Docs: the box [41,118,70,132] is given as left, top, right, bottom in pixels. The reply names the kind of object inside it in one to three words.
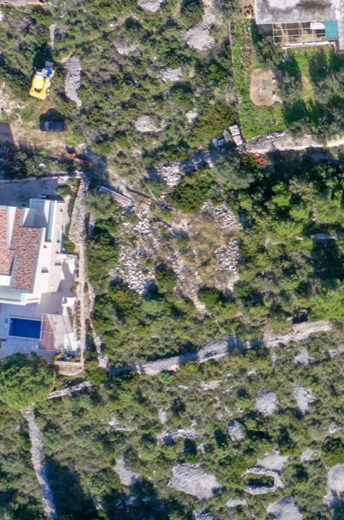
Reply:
vehicle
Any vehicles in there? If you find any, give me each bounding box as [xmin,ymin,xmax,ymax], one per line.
[30,60,59,102]
[41,118,70,132]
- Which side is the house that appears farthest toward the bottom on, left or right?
left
